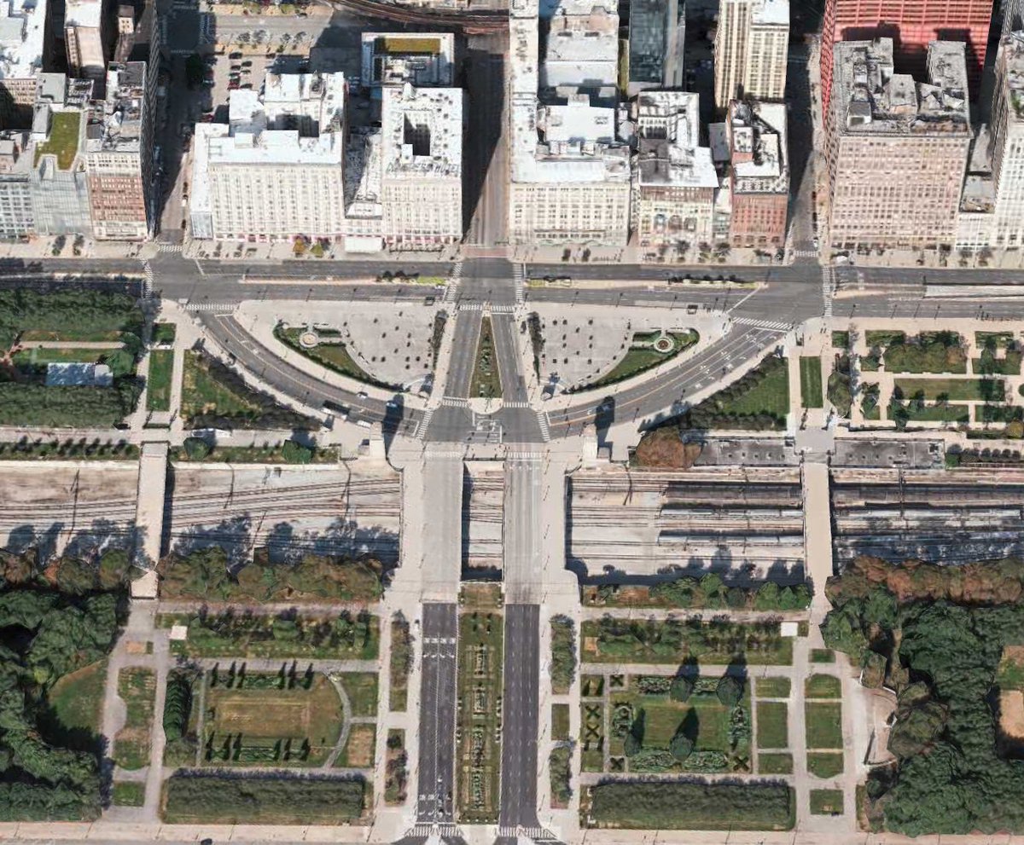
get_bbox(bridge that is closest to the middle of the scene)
[386,443,583,605]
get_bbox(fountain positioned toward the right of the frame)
[655,336,673,350]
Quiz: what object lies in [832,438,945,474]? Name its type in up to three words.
building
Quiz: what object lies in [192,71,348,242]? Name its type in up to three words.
building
